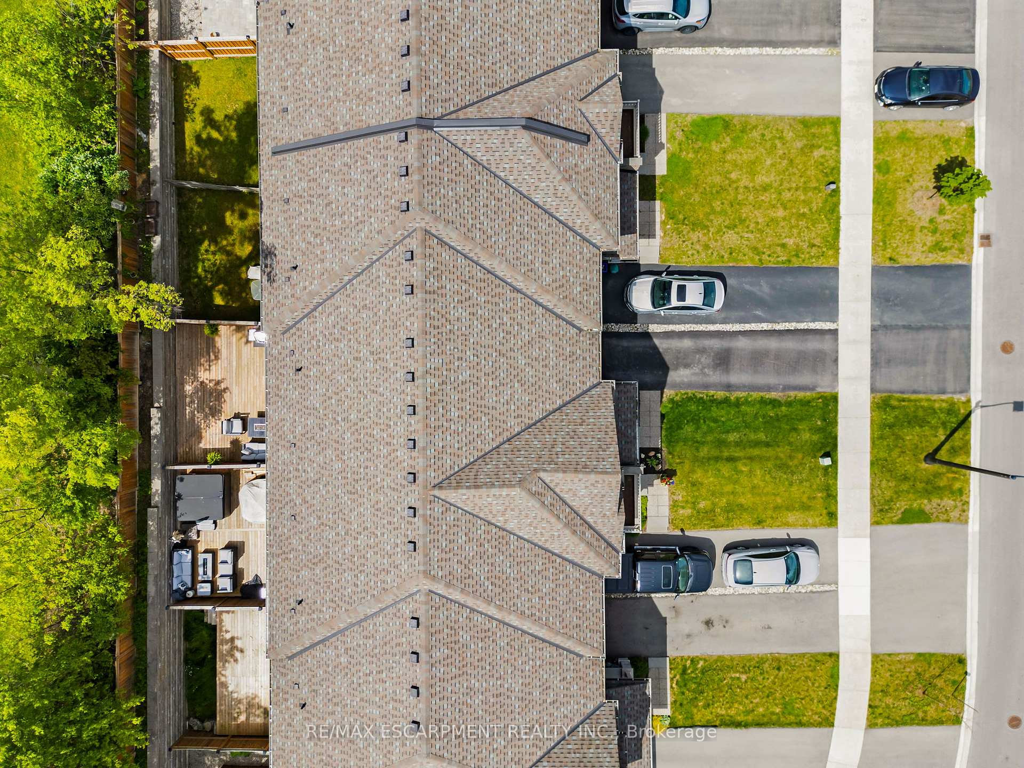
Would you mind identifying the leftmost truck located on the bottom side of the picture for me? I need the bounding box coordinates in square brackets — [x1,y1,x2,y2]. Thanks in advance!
[608,541,715,595]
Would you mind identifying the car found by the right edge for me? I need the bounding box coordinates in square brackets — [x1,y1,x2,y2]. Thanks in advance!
[872,65,982,116]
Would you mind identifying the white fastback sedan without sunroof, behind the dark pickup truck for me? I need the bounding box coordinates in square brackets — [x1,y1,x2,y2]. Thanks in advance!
[718,543,818,592]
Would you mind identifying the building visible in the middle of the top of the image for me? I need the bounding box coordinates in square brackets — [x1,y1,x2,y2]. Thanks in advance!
[255,0,640,332]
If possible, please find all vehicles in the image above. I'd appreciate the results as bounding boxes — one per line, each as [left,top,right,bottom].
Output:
[718,543,818,592]
[872,65,982,116]
[624,270,726,317]
[611,0,708,32]
[608,541,715,595]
